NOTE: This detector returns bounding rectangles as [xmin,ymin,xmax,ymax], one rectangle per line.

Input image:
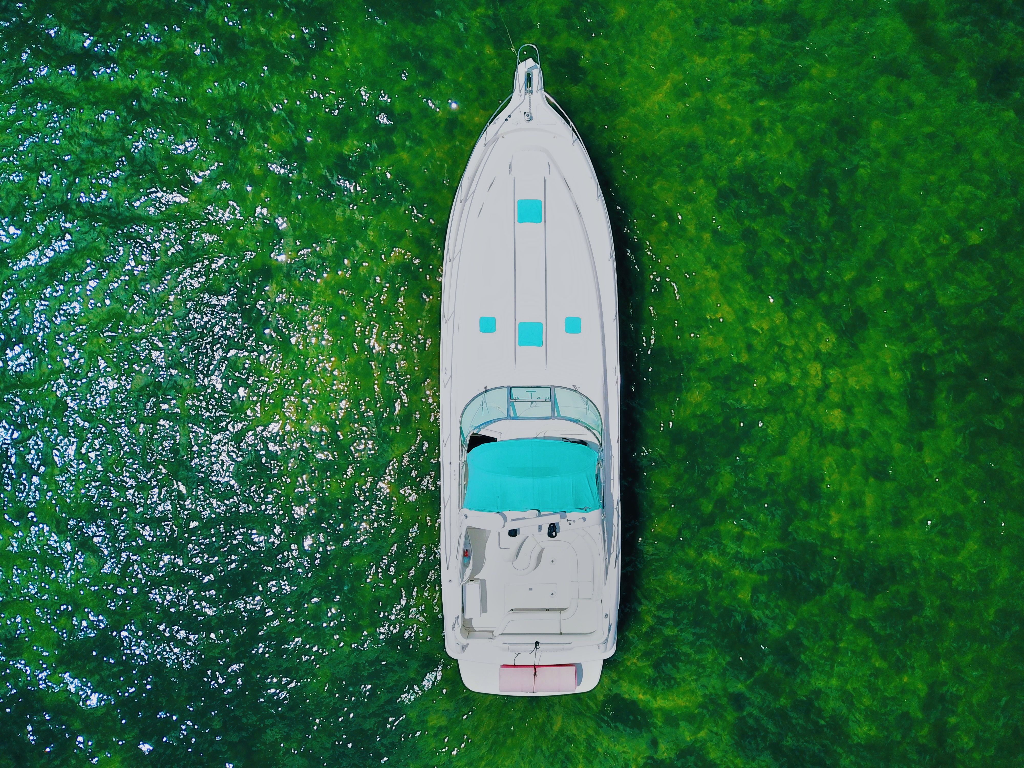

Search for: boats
[439,43,622,696]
